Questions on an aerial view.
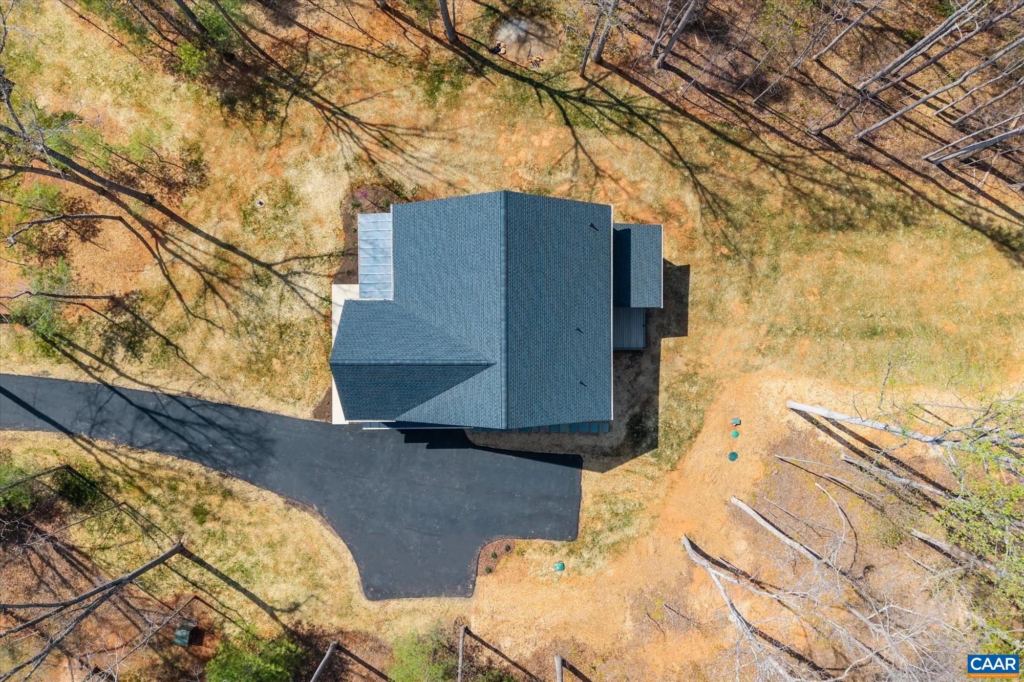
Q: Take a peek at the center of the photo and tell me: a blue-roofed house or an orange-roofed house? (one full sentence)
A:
Visible at the center of the photo is a blue-roofed house.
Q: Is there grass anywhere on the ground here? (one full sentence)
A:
Yes, the picture does contain grass.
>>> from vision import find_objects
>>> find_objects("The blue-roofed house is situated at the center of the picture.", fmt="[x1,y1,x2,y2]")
[330,189,664,430]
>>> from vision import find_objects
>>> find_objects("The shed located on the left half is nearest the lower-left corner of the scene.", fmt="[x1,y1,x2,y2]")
[172,619,199,648]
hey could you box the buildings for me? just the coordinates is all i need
[330,189,664,430]
[172,619,199,648]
